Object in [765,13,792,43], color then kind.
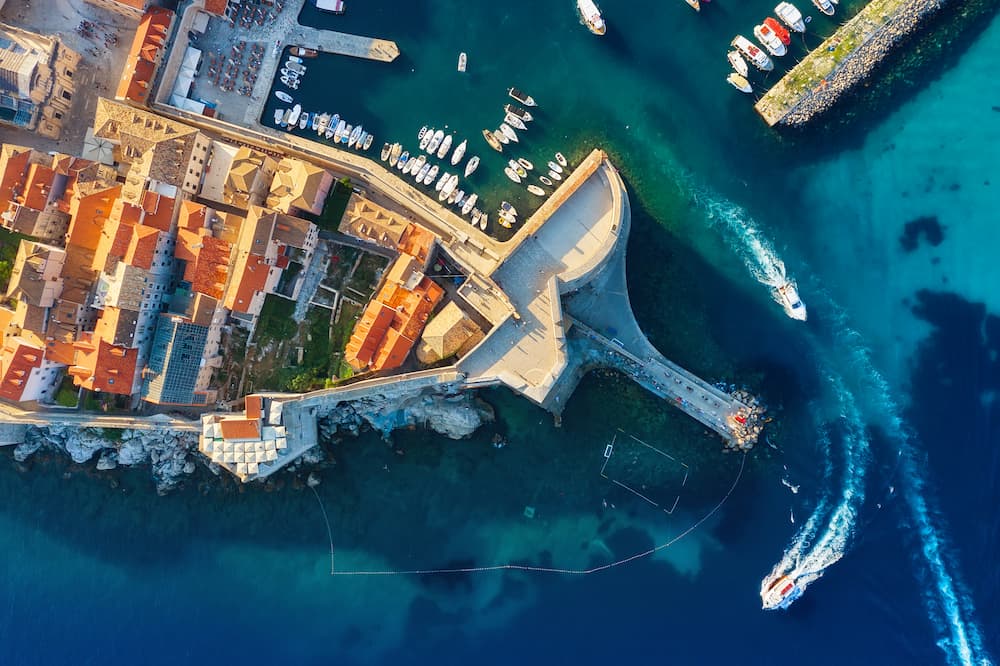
red boat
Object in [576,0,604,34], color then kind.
white boat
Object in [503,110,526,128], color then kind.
white boat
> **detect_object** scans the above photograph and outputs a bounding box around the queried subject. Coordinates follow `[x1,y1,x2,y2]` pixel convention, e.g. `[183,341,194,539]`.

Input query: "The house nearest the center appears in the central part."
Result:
[422,301,484,358]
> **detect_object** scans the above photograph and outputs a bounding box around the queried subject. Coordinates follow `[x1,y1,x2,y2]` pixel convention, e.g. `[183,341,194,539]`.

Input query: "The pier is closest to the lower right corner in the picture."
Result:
[562,250,749,437]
